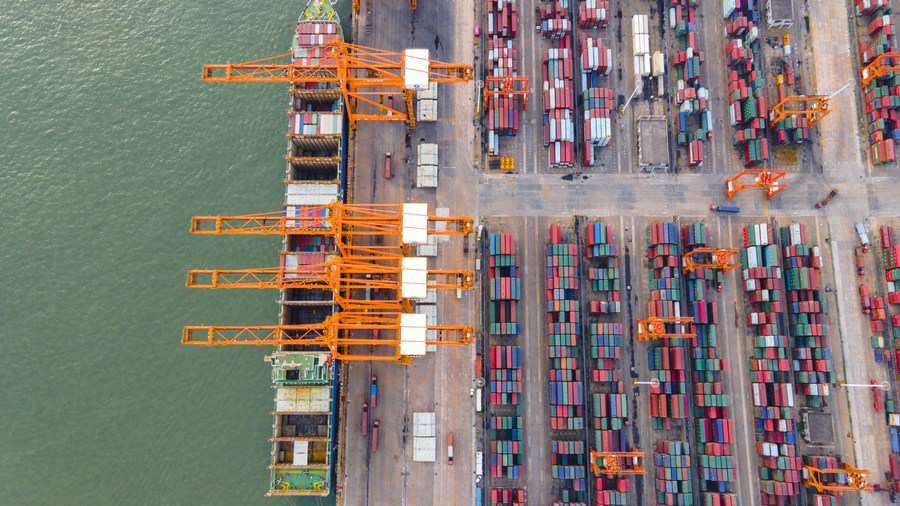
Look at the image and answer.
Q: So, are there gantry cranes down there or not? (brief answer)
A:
Yes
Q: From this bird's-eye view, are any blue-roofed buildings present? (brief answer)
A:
No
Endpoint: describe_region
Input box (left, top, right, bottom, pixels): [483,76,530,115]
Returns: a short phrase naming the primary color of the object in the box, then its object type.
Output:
red container crane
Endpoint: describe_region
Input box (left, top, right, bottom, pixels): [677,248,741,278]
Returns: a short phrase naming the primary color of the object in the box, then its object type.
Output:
orange container crane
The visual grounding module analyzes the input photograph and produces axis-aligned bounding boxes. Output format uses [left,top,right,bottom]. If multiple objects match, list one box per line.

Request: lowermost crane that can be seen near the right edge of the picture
[796,459,873,490]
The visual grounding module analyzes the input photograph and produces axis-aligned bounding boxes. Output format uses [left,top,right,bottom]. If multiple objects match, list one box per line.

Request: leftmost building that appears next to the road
[635,118,668,172]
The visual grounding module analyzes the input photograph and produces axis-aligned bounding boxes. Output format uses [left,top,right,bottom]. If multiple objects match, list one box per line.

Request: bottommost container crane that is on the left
[182,311,475,366]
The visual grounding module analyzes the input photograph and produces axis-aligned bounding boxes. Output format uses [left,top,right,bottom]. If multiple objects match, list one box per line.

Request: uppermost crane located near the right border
[846,57,900,97]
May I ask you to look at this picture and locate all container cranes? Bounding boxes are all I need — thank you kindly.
[796,459,873,490]
[846,57,900,97]
[182,311,475,366]
[483,76,530,115]
[724,170,789,204]
[185,256,474,314]
[677,248,741,278]
[586,445,646,474]
[200,39,473,125]
[634,317,695,343]
[764,95,830,133]
[190,199,474,258]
